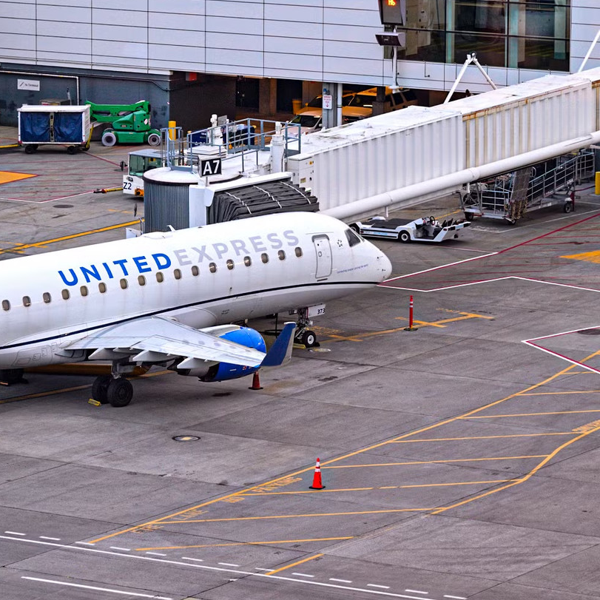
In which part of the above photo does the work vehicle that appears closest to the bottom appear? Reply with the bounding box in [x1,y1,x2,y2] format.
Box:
[357,209,488,246]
